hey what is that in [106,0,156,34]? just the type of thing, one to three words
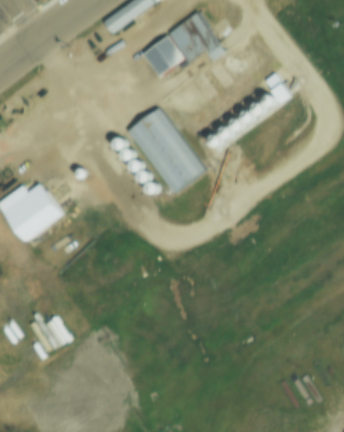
building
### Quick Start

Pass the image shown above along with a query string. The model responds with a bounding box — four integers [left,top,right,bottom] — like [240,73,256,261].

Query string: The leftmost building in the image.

[0,182,66,242]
